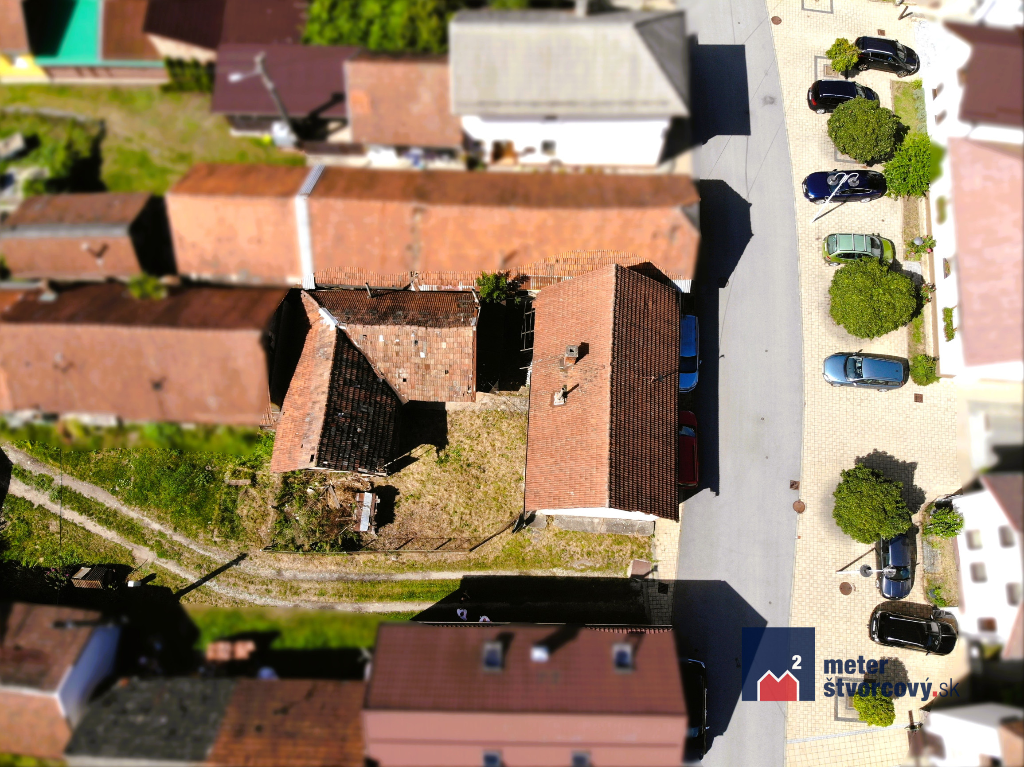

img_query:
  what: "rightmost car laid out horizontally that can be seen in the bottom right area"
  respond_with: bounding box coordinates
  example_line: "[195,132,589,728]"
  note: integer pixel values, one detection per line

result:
[868,605,963,657]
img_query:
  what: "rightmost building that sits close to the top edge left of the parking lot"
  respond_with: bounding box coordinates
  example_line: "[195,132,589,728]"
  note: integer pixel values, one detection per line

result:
[451,9,690,172]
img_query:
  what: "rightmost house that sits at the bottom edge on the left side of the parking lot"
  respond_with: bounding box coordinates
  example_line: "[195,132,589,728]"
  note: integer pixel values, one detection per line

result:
[356,621,694,767]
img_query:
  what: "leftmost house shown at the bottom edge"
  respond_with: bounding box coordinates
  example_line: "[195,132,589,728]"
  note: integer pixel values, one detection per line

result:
[0,603,139,760]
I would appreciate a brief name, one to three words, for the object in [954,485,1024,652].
house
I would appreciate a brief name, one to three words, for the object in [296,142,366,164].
shed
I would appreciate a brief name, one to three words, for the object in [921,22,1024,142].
house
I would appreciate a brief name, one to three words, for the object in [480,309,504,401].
shed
